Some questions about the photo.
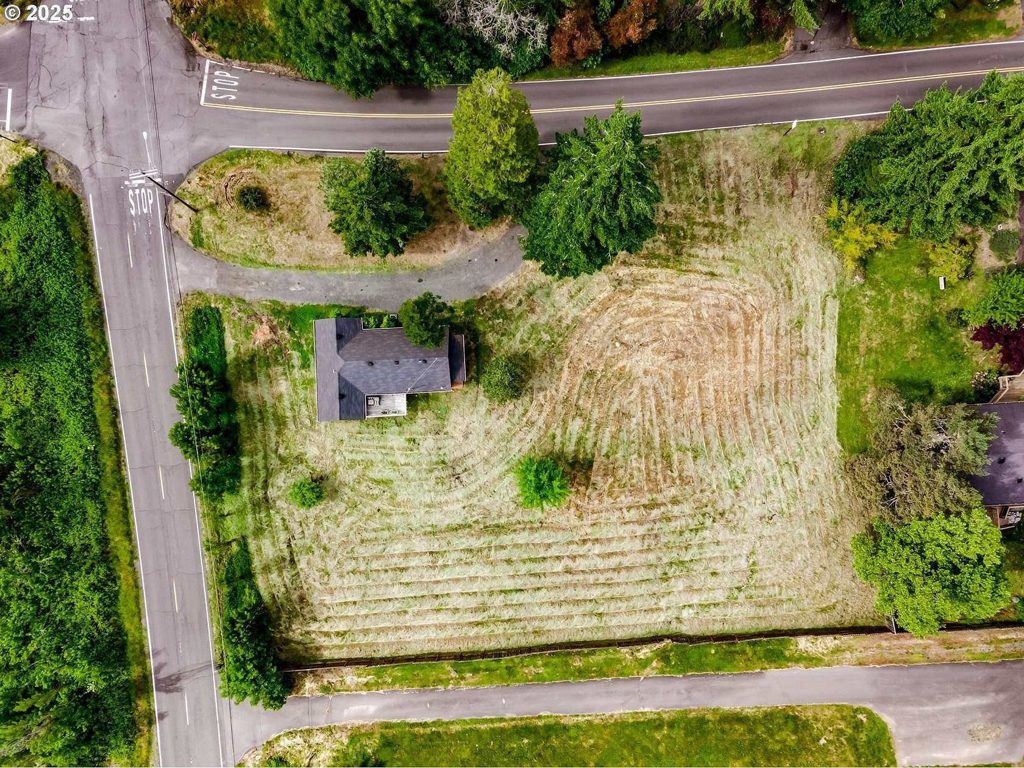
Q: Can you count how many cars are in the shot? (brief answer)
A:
none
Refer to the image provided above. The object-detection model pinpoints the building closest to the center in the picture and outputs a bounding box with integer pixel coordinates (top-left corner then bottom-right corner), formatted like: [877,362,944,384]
[314,316,467,422]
